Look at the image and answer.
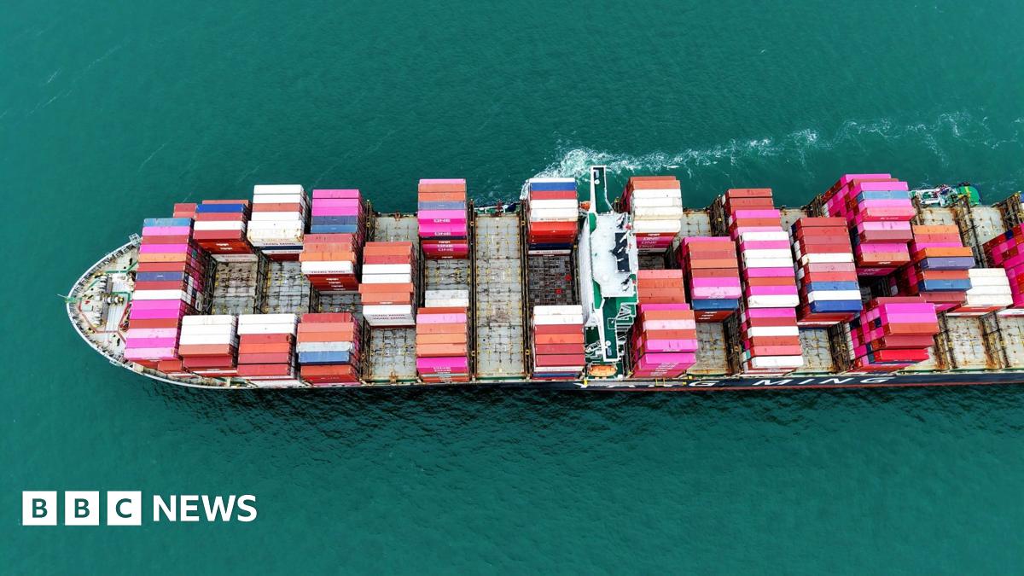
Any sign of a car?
No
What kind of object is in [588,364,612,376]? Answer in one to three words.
boat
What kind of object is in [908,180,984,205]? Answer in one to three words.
boat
